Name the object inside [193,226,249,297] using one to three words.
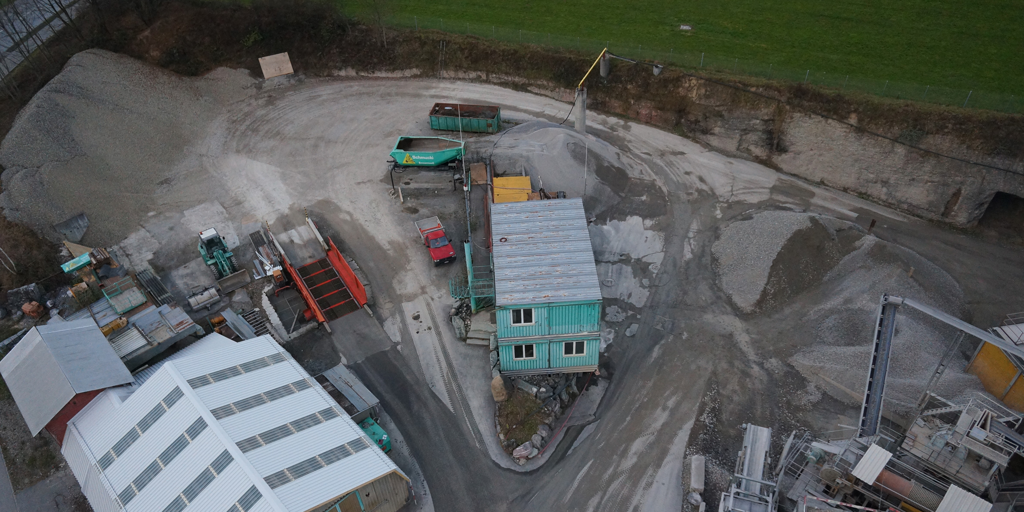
work vehicle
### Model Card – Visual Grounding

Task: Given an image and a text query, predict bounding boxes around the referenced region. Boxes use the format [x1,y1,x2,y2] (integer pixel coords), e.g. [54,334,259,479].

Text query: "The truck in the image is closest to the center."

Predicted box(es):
[414,216,458,268]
